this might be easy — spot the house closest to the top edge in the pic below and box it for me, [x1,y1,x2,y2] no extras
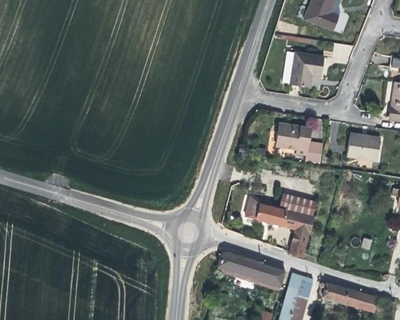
[304,0,342,31]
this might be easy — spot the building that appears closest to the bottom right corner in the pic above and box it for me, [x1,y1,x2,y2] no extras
[324,283,378,314]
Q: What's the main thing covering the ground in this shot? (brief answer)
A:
farmland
